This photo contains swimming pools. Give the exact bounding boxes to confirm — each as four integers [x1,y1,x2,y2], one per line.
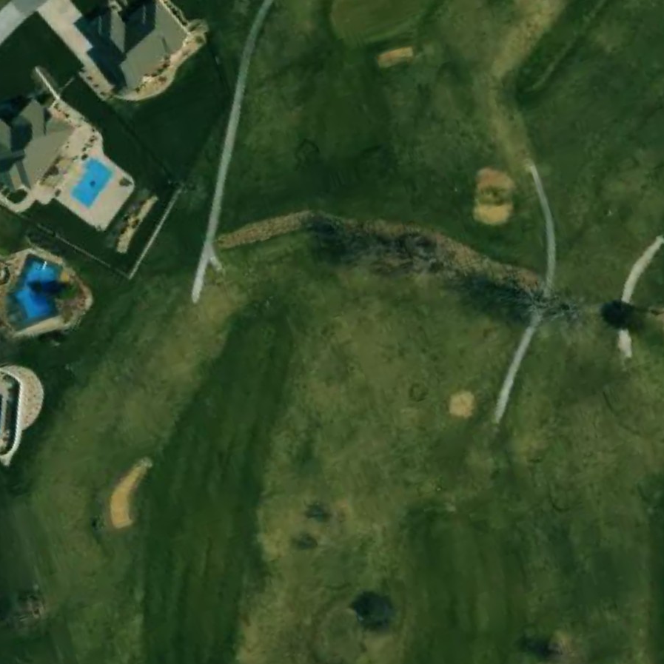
[23,131,134,231]
[6,253,61,331]
[0,372,17,451]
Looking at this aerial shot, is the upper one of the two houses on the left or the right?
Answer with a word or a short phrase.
left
